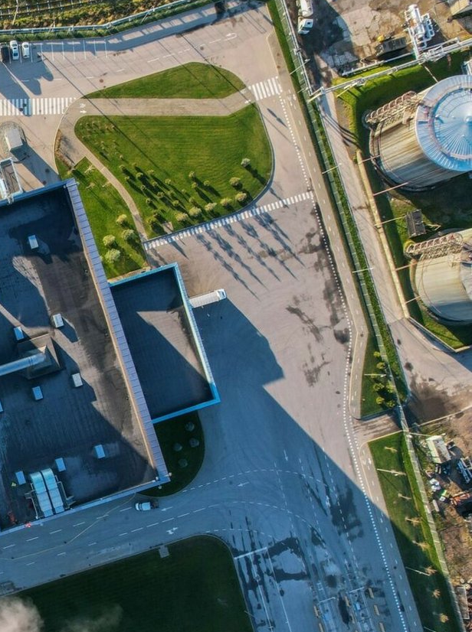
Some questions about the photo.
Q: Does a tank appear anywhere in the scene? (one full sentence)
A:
Yes, I can see a tank in this picture.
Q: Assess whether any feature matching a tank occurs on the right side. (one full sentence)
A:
Yes, a tank shows up on the right side.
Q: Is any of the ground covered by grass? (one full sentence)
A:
Yes, grass can be seen from above here.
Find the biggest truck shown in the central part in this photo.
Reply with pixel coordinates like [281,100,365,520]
[188,286,236,309]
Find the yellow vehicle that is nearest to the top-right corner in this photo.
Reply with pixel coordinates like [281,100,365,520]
[375,29,398,43]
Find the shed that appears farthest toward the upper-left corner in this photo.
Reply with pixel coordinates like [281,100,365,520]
[2,128,24,153]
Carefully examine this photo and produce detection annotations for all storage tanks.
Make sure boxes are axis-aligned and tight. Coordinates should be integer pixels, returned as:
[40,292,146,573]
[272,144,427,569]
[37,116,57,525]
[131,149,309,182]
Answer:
[362,74,472,195]
[401,227,472,332]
